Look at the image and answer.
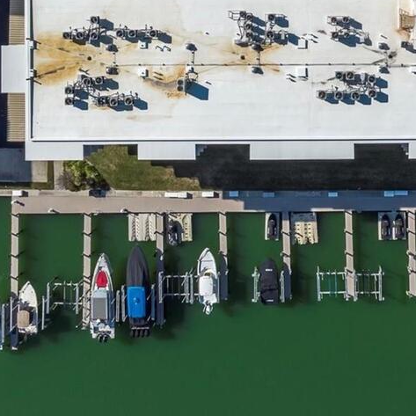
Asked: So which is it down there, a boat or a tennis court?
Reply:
boat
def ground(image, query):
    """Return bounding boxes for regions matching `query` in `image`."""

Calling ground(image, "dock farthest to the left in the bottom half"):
[7,214,25,349]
